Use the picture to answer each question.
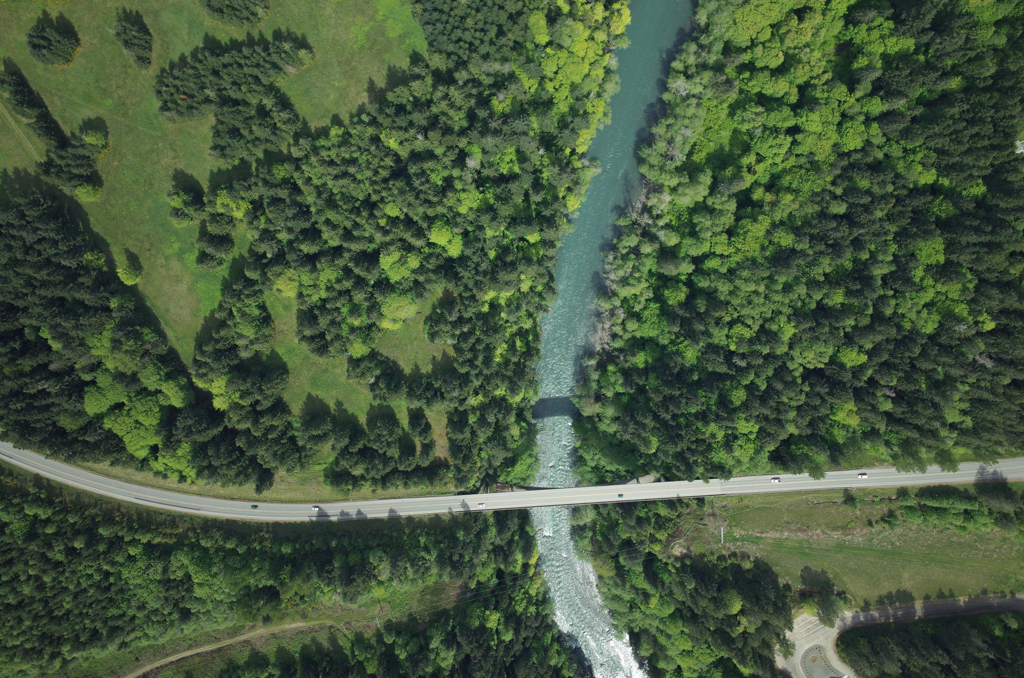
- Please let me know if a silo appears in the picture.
No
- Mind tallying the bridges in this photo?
one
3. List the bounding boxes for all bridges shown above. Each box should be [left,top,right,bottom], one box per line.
[457,466,722,514]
